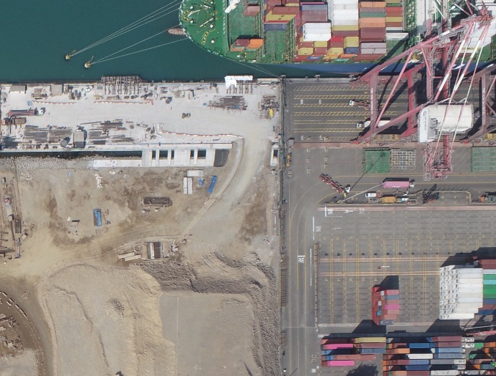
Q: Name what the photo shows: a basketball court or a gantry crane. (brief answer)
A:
gantry crane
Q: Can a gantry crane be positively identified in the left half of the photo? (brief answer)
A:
No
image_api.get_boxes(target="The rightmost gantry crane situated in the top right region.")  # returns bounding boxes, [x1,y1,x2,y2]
[460,62,496,143]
